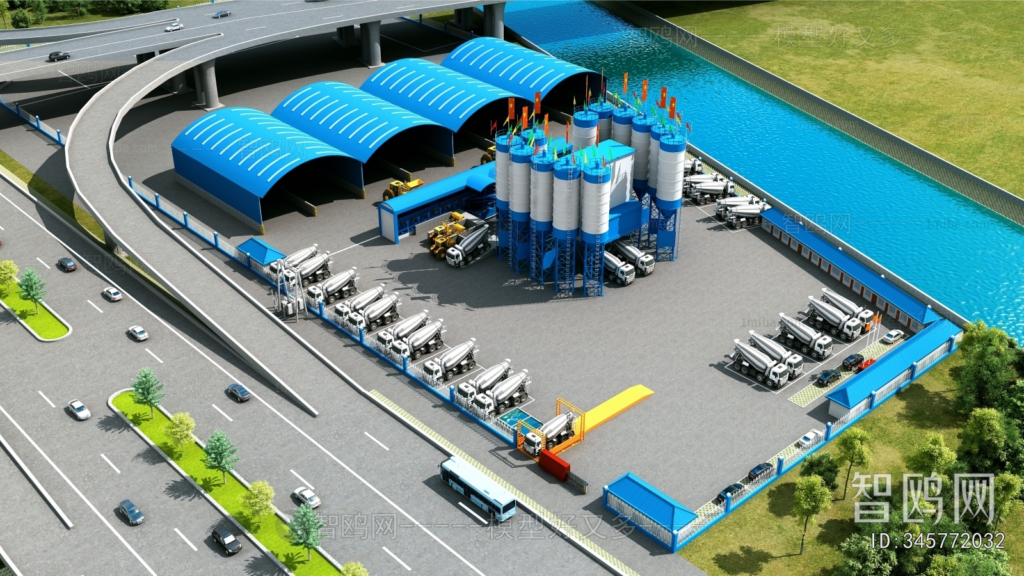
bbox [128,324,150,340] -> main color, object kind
white car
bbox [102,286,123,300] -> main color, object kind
white car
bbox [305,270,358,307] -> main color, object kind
white truck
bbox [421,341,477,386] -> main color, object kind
white truck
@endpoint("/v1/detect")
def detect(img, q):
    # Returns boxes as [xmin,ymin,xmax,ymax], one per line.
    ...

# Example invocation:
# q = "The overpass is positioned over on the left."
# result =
[0,0,537,418]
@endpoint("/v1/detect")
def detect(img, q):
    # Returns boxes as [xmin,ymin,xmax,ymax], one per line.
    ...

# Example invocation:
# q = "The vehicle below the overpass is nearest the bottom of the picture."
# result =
[212,524,241,554]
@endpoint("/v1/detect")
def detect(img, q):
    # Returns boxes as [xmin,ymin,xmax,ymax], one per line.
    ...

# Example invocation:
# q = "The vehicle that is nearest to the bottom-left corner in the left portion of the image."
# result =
[118,498,145,524]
